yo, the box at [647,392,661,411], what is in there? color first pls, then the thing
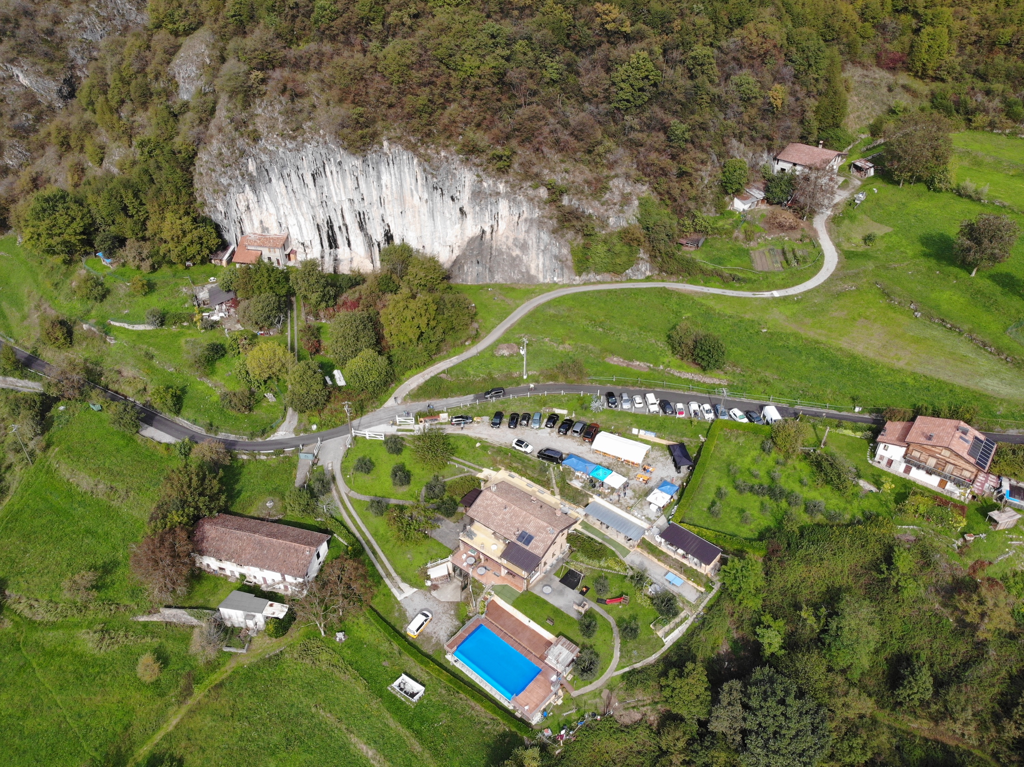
white car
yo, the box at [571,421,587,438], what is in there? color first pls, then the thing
gray car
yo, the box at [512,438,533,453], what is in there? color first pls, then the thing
white car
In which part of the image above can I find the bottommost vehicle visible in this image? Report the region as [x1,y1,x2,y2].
[403,611,432,640]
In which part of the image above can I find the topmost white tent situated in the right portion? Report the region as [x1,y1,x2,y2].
[591,433,649,467]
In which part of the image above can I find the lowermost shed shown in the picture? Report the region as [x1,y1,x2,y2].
[545,636,578,674]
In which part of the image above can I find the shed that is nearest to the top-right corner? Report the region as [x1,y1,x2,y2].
[851,158,877,180]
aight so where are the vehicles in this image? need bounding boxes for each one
[659,398,675,414]
[855,190,866,202]
[689,401,703,417]
[701,402,715,419]
[762,399,783,422]
[730,405,751,423]
[491,410,505,428]
[747,409,766,425]
[619,390,633,410]
[512,438,533,453]
[647,392,661,411]
[484,387,505,400]
[606,391,618,408]
[571,421,587,438]
[537,449,563,464]
[544,414,560,429]
[530,410,543,429]
[631,392,646,409]
[508,413,520,429]
[519,412,531,427]
[403,611,432,640]
[675,401,686,416]
[583,425,600,442]
[450,417,472,428]
[558,420,573,435]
